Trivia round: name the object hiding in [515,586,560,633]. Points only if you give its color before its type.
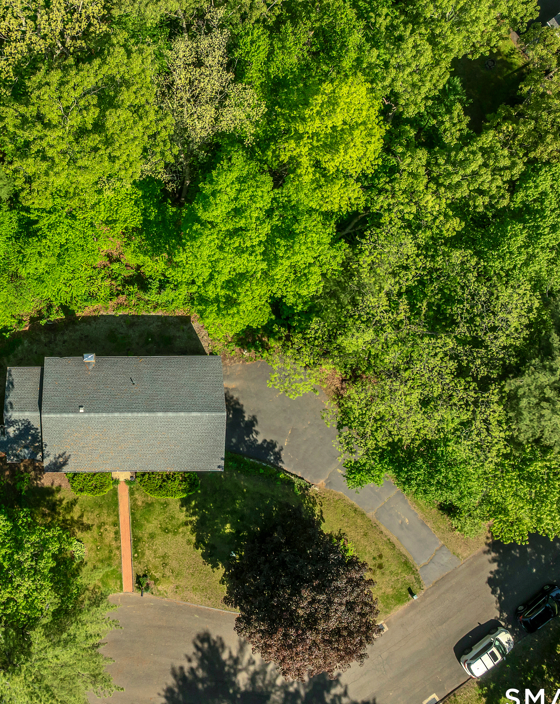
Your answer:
black car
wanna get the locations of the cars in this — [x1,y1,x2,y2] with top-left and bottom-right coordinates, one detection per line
[461,627,514,679]
[515,586,560,633]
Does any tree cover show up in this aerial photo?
Yes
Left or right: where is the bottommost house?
left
